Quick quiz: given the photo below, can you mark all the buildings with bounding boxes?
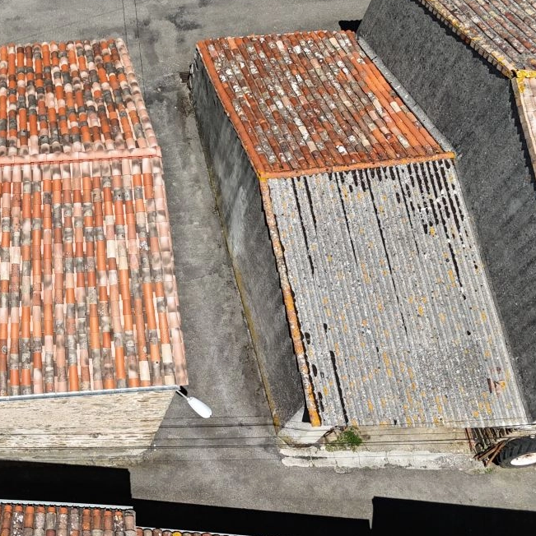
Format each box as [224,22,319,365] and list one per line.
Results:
[0,35,193,451]
[187,25,524,443]
[0,502,143,536]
